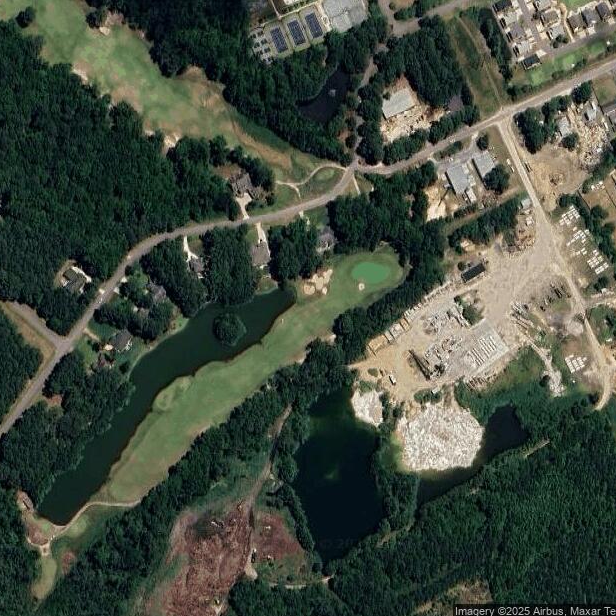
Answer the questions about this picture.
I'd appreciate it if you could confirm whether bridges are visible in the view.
No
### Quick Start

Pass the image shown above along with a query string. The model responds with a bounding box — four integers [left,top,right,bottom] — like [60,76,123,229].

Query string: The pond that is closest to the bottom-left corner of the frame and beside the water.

[40,288,296,526]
